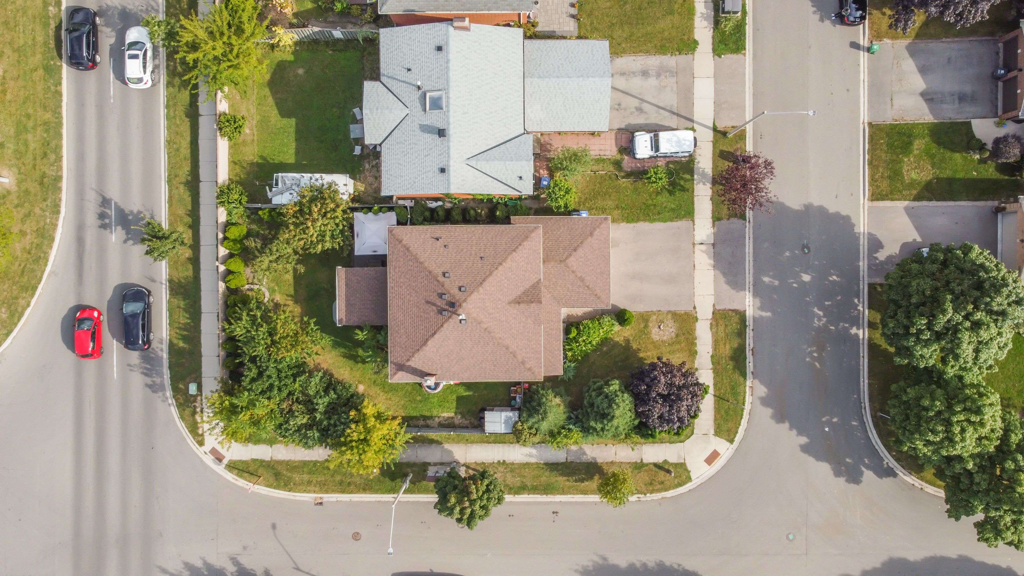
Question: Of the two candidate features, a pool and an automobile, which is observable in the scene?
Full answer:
Visible in the photo is an automobile.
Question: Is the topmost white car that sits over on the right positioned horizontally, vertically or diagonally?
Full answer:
In this picture, the topmost white car that sits over on the right is oriented horizontally.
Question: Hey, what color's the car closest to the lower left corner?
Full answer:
The car closest to the lower left corner is red.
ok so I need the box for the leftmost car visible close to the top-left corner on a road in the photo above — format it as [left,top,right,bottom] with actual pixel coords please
[66,8,101,71]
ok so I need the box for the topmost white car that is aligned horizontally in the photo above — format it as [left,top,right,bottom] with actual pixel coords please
[632,127,699,160]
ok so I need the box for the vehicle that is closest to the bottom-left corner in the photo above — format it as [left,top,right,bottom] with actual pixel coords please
[73,309,105,357]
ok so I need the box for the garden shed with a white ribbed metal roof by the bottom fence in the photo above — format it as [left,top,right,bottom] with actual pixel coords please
[484,409,518,434]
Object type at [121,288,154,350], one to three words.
car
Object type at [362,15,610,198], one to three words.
house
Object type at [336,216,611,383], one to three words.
house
